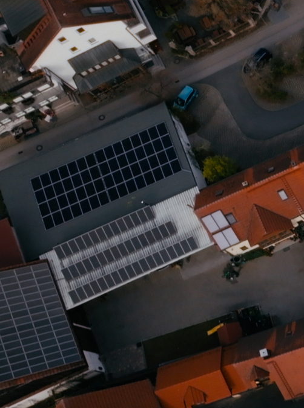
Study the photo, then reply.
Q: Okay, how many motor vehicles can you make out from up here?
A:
2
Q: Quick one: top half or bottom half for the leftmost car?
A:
top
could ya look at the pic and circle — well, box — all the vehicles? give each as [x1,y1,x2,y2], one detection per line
[242,43,275,75]
[170,82,201,111]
